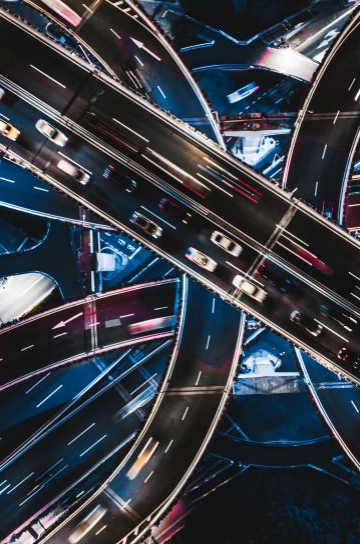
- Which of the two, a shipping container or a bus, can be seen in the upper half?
bus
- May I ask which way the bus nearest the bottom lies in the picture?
on a diagonal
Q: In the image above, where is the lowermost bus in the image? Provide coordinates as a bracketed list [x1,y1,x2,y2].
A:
[70,499,108,543]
